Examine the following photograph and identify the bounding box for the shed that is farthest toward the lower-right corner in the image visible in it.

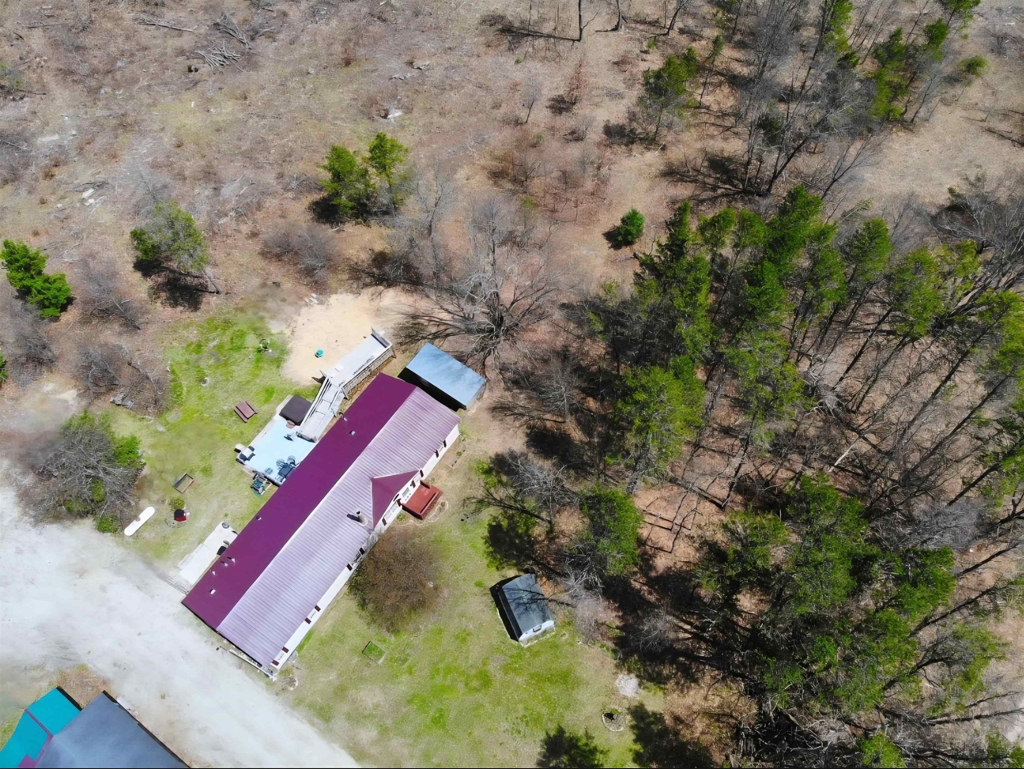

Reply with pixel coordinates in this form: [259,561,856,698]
[499,575,559,653]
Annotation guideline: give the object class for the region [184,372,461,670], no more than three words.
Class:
house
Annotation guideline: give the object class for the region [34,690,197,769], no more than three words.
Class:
barn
